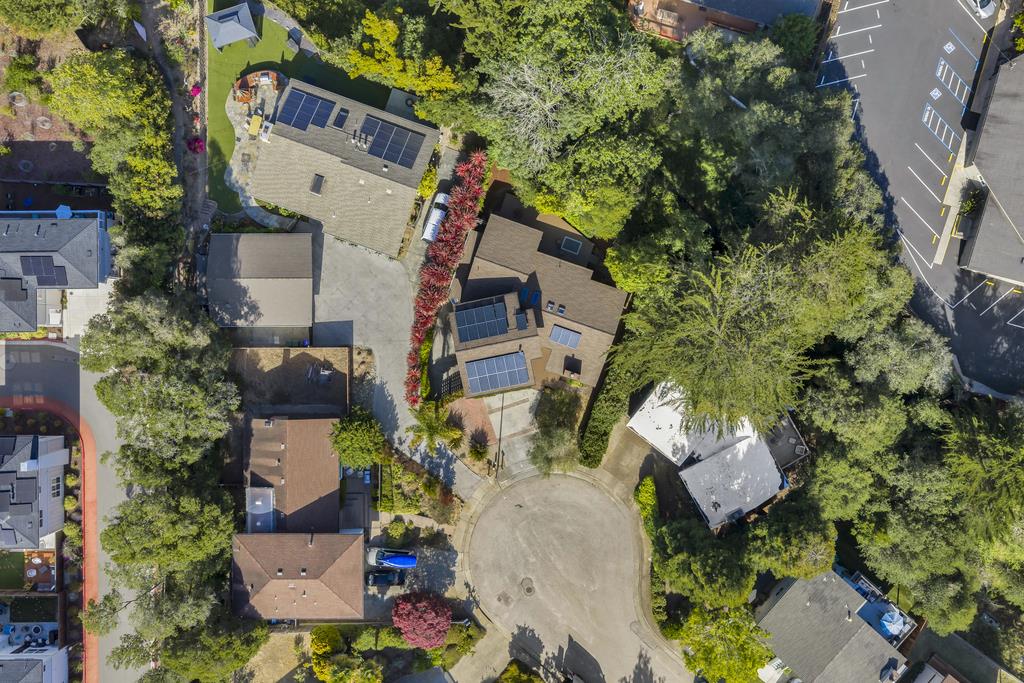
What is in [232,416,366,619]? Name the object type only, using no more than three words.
house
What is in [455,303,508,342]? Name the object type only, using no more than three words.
solar array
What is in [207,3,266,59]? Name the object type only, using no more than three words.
gazebo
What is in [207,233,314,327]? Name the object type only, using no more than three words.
building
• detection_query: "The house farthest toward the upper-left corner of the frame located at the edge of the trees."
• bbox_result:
[0,219,116,332]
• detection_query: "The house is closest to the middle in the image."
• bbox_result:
[449,214,622,398]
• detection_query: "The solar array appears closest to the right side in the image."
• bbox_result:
[550,325,581,349]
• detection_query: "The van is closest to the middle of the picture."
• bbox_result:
[420,191,449,243]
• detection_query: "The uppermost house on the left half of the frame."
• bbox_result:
[251,79,439,260]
